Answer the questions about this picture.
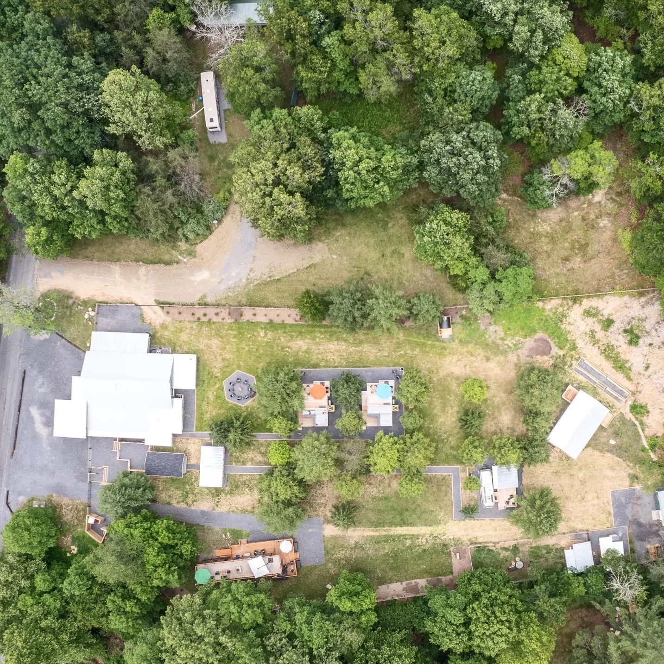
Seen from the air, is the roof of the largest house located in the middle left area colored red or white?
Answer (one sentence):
From above, the roof of the largest house located in the middle left area appears white.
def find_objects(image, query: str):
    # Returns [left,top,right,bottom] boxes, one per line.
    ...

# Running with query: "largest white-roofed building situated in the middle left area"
[53,331,199,447]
